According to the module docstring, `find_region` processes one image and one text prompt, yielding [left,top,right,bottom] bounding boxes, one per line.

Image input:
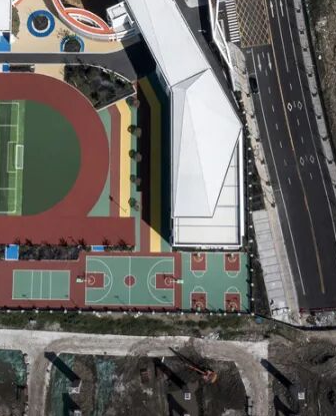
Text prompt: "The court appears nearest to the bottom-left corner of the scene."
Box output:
[13,271,71,301]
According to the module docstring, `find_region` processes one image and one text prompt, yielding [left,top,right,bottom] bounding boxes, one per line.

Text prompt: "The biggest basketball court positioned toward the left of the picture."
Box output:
[85,257,174,306]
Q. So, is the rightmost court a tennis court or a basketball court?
basketball court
